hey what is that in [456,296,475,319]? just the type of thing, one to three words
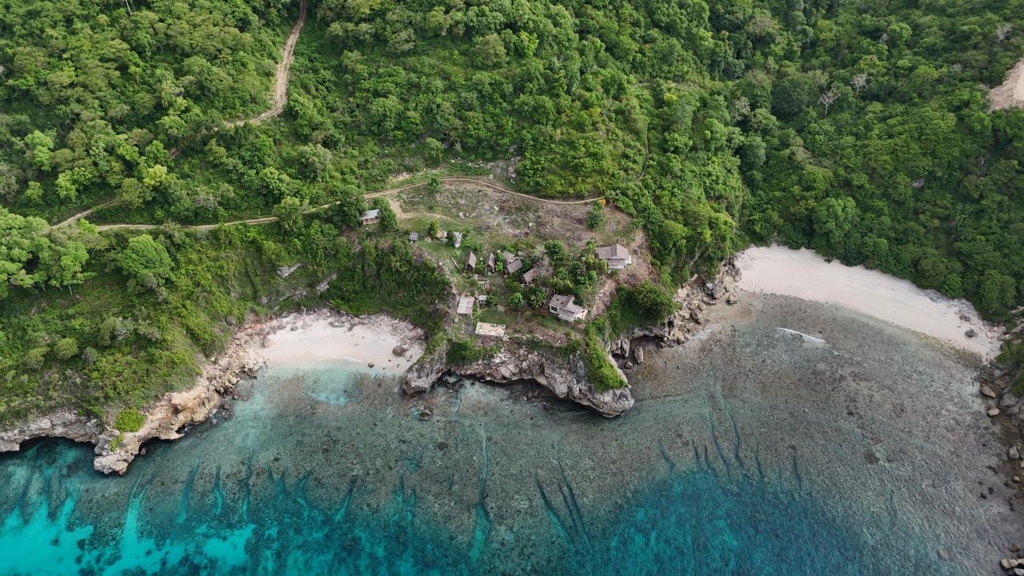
shed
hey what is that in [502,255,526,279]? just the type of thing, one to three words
shed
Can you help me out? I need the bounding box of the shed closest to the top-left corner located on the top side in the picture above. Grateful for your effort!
[358,208,381,230]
